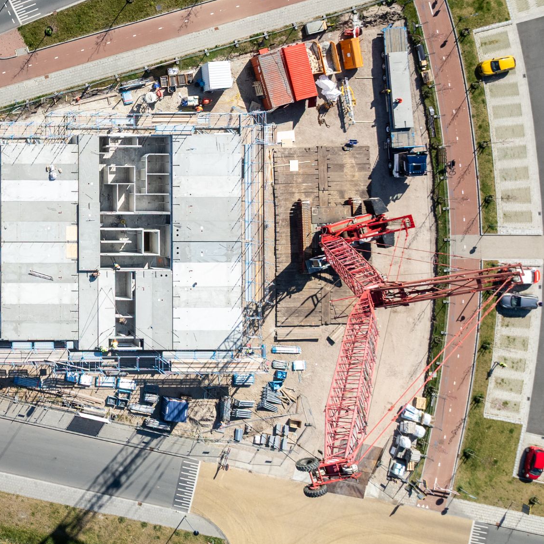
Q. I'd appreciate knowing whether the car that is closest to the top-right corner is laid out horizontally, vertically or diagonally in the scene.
horizontally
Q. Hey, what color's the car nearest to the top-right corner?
yellow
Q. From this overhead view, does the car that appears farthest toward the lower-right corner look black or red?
red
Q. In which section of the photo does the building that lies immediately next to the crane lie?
left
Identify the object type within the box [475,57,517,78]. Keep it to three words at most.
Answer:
car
